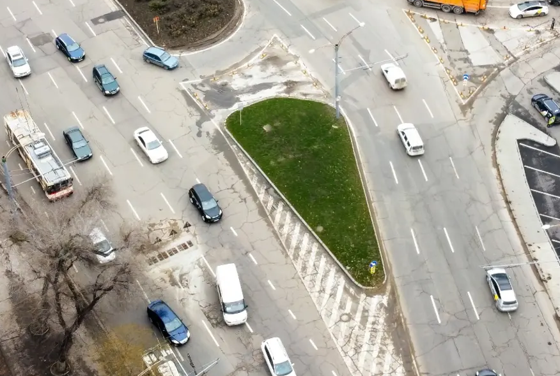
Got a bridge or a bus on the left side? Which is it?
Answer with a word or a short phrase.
bus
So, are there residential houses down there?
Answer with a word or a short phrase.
No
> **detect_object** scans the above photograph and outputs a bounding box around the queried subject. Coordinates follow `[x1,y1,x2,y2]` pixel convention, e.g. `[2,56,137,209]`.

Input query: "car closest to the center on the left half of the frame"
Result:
[189,182,223,224]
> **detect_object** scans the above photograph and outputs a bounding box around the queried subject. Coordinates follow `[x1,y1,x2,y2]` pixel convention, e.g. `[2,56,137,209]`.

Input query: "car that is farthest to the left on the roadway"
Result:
[7,47,30,77]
